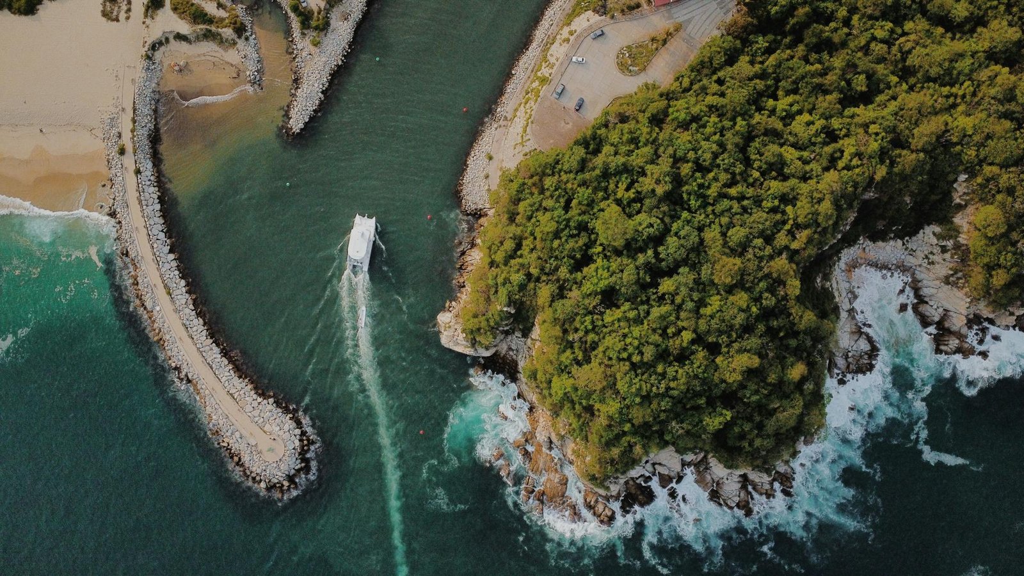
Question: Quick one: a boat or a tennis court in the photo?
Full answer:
This aerial view contains a boat.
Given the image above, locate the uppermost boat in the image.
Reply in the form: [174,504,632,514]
[348,214,373,272]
